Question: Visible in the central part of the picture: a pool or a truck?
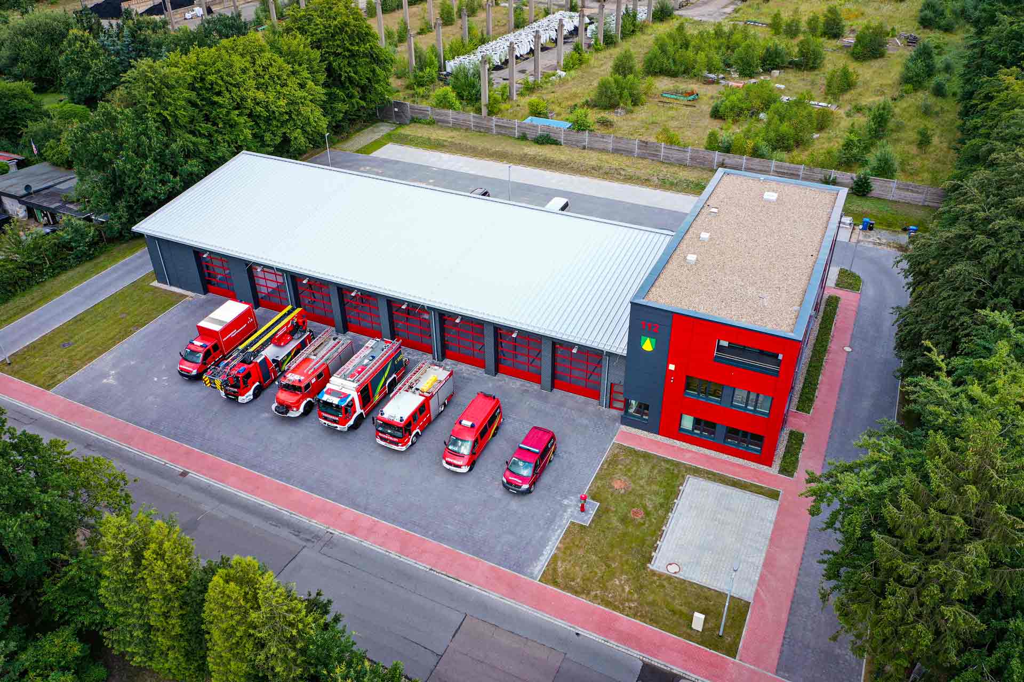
truck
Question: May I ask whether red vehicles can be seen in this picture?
Yes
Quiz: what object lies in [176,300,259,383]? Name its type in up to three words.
vehicle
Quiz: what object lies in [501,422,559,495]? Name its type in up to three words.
van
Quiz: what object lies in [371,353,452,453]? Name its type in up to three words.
truck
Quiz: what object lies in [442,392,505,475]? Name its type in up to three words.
van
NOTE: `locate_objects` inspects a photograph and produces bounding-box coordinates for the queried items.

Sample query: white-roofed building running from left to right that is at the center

[130,149,677,413]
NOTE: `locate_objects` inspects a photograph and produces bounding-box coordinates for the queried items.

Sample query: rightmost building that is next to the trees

[623,168,848,467]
